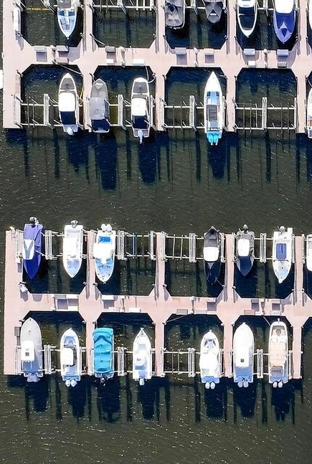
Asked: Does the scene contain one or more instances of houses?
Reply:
No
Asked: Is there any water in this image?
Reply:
Yes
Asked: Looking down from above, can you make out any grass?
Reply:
No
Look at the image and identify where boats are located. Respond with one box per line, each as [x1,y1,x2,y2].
[204,69,222,141]
[132,327,152,386]
[91,327,114,384]
[19,318,42,383]
[237,0,257,39]
[273,224,293,285]
[203,226,221,285]
[93,224,116,282]
[58,0,77,40]
[274,0,296,44]
[56,71,77,139]
[200,328,220,389]
[131,77,150,146]
[88,78,110,134]
[233,322,254,388]
[306,234,312,270]
[63,219,84,280]
[236,226,255,277]
[204,0,222,24]
[22,219,44,279]
[269,321,288,389]
[59,327,80,387]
